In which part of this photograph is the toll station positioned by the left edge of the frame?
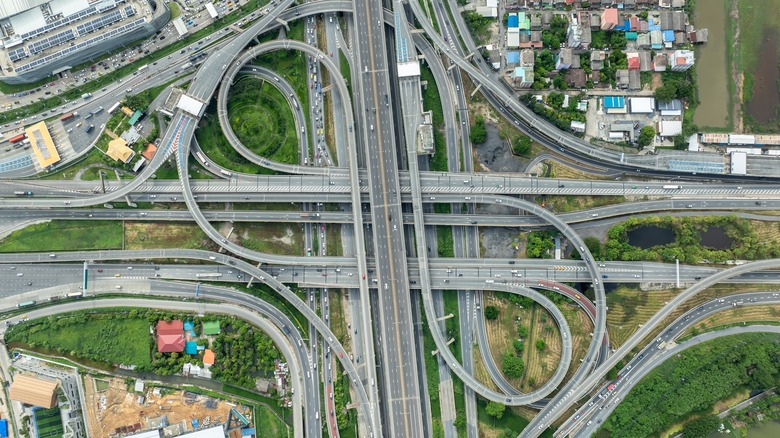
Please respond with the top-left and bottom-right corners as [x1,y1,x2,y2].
[25,121,69,170]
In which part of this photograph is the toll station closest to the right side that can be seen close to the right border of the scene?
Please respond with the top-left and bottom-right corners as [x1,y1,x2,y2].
[722,152,746,174]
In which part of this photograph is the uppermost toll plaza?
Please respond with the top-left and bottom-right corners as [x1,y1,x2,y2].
[397,61,420,83]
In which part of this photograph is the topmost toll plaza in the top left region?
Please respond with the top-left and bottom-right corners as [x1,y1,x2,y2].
[176,94,209,120]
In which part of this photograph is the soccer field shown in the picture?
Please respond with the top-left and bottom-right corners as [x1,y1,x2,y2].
[32,398,63,438]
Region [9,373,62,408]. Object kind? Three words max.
building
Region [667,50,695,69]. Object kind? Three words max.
house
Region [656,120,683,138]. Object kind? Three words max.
building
